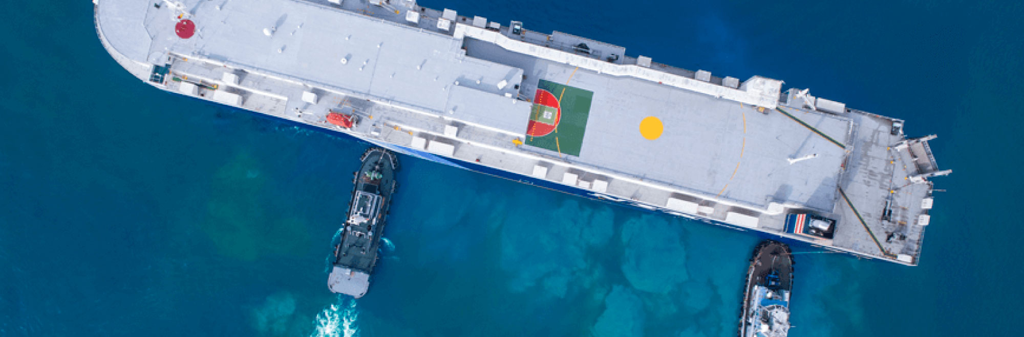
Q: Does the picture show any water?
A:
Yes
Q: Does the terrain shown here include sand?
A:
No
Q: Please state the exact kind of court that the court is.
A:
basketball court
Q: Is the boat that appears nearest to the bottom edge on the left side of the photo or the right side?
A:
right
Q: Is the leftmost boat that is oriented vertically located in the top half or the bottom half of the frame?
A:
bottom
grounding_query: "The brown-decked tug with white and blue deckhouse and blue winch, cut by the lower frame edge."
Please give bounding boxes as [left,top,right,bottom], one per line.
[738,241,796,337]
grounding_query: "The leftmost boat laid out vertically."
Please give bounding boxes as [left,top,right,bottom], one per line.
[328,146,398,298]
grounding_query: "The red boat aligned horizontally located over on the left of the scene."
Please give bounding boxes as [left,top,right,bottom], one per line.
[326,113,353,127]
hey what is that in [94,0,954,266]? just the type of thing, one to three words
ship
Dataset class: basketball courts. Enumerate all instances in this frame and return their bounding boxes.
[525,79,594,157]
